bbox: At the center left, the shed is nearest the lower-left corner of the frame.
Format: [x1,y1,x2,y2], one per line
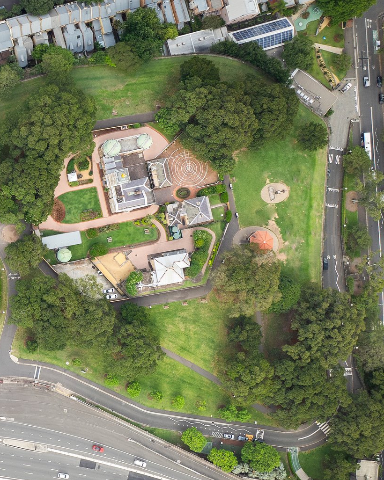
[42,231,81,250]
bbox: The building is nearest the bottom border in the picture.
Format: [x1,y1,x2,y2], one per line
[150,249,191,287]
